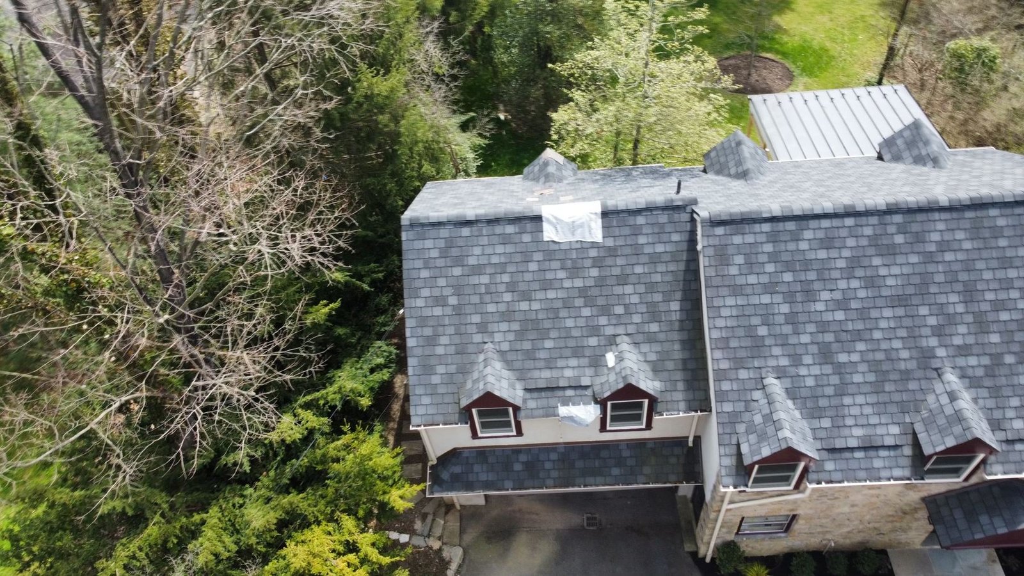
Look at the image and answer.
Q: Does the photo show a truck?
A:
No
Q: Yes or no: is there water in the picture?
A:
No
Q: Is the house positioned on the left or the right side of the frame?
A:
right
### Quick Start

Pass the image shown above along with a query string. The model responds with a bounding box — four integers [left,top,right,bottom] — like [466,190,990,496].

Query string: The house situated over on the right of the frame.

[398,117,1024,560]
